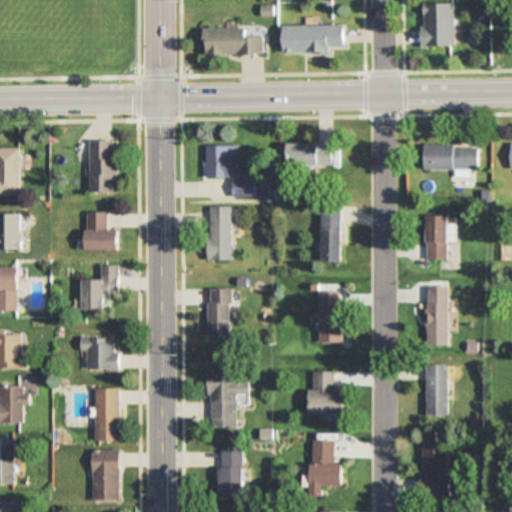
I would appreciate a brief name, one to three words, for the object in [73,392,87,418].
swimming pool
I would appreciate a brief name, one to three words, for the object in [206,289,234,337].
house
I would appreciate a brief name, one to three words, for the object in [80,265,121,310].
house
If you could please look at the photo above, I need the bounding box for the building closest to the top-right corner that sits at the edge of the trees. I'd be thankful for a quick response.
[418,2,457,49]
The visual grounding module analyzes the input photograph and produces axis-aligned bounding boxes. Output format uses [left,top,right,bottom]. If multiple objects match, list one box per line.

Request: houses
[418,2,457,49]
[0,333,23,368]
[0,266,18,312]
[204,146,260,200]
[206,289,234,337]
[200,28,264,58]
[306,441,343,496]
[284,142,334,168]
[318,292,345,344]
[425,365,449,417]
[0,148,23,191]
[424,216,448,262]
[88,450,122,500]
[80,265,121,310]
[81,212,118,250]
[320,204,342,262]
[218,450,243,498]
[0,214,22,250]
[205,378,251,429]
[306,372,344,410]
[424,286,450,346]
[0,460,16,486]
[96,388,121,442]
[420,446,449,502]
[88,140,120,190]
[420,144,480,172]
[205,207,235,262]
[278,25,346,56]
[0,386,24,425]
[79,335,120,372]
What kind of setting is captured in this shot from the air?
residential area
